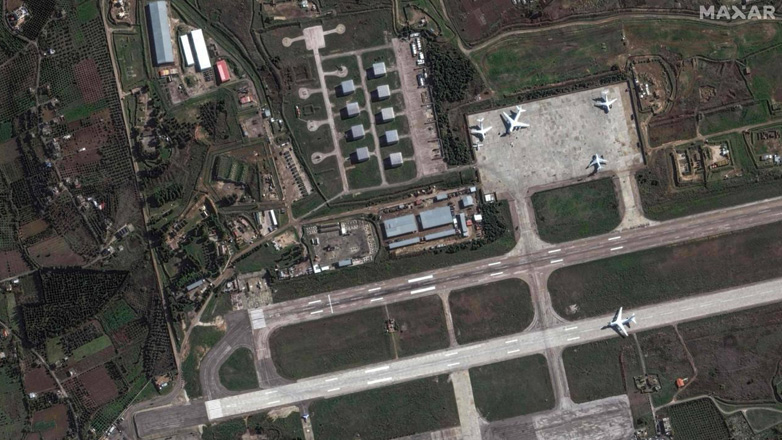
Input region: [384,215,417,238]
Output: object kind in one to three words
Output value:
building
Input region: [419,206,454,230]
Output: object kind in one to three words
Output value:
building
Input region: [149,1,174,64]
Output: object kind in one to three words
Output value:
hangar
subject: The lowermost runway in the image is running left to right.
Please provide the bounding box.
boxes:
[205,280,782,420]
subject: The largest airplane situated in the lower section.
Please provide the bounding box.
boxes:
[608,306,635,335]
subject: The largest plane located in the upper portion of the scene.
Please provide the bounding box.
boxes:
[503,105,530,132]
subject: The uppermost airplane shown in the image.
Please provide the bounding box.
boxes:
[597,89,618,110]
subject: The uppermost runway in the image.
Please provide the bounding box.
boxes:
[247,196,782,332]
